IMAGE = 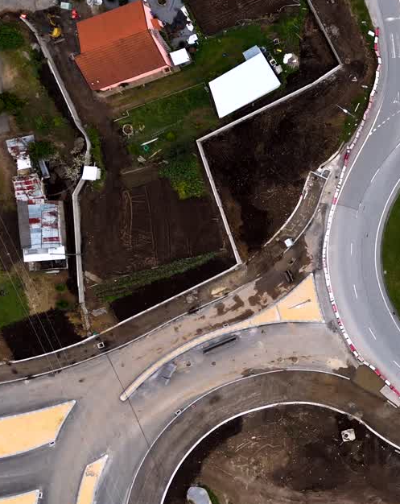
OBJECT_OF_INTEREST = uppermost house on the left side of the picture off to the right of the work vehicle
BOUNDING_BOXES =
[75,0,177,92]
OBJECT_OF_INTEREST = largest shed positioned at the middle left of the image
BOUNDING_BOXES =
[17,199,72,248]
